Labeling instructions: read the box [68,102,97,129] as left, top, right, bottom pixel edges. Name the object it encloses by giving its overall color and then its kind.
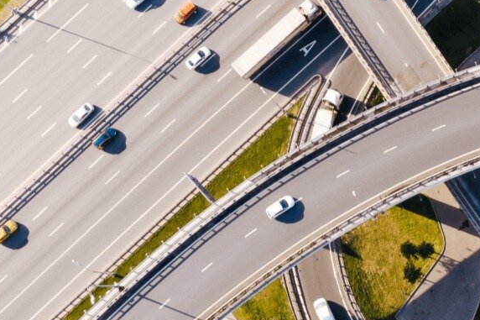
white car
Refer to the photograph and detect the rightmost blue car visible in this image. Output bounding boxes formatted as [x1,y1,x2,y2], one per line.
[91,126,119,152]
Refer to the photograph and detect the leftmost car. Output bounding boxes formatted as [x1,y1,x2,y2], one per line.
[0,219,18,243]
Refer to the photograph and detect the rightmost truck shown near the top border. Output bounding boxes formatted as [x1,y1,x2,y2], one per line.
[233,0,320,77]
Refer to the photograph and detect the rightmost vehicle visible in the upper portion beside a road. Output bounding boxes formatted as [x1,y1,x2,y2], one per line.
[307,83,346,140]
